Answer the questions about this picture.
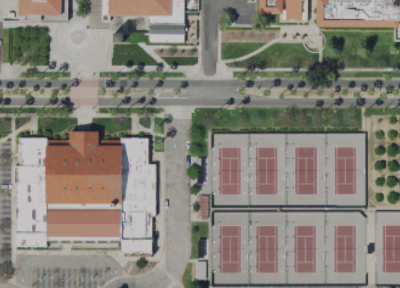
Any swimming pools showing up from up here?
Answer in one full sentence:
No, this view has no swimming pool in it.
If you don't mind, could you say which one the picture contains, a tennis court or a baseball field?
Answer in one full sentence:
I can see a tennis court in this picture.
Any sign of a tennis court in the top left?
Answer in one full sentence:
No, no tennis court is visible in the top left.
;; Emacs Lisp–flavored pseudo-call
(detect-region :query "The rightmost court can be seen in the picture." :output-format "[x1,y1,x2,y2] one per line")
[382,226,400,272]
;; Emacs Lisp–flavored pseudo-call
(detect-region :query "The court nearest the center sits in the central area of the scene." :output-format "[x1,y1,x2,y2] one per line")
[220,147,241,194]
